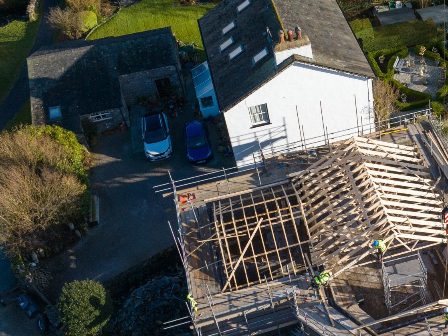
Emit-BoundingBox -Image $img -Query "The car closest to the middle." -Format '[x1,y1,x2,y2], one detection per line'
[180,116,211,160]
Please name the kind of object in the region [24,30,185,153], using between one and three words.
shed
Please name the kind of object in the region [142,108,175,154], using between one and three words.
car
